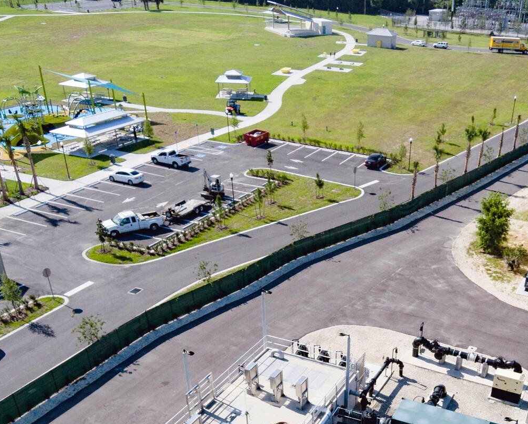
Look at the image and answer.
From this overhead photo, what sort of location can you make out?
industrial area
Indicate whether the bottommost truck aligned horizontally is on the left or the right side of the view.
left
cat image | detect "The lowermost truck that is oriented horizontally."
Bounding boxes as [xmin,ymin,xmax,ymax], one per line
[95,206,166,238]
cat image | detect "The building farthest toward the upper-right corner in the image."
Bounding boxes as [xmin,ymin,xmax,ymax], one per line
[424,6,452,23]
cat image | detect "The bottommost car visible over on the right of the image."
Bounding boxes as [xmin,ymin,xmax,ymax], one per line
[368,155,393,168]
